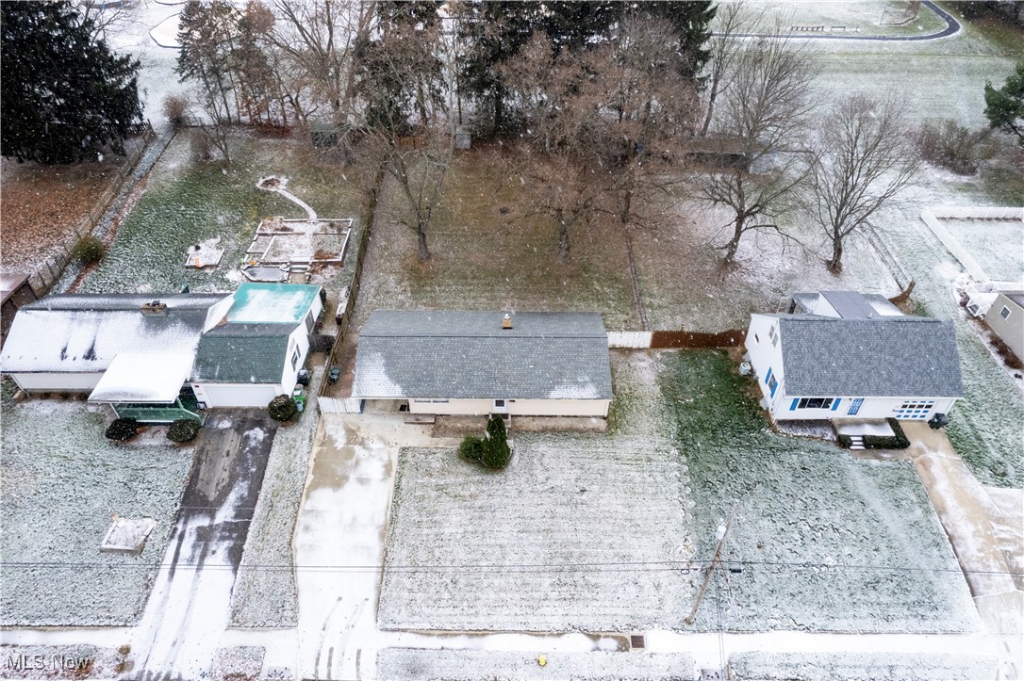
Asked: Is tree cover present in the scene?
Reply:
Yes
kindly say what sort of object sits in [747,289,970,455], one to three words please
house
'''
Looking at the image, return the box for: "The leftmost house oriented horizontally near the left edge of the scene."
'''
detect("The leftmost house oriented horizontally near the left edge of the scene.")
[0,283,319,428]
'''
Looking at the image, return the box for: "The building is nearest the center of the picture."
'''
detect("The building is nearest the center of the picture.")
[354,311,613,429]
